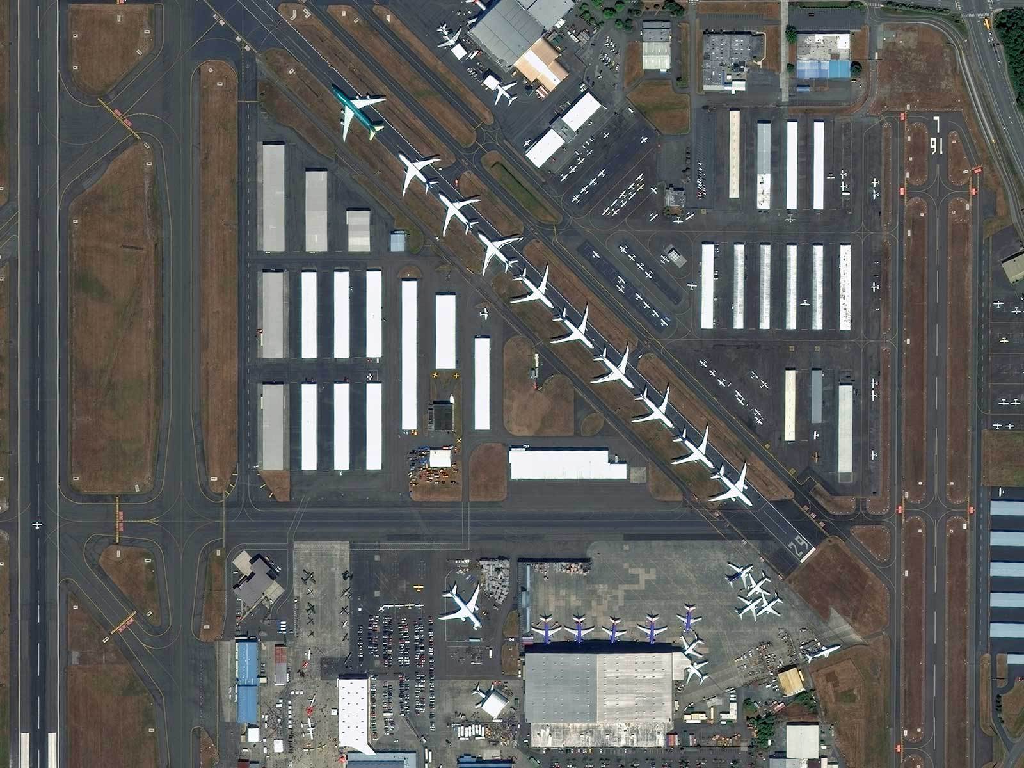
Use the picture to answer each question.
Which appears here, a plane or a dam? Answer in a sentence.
Looking from above, you can make out a plane.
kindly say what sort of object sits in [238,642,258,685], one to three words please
hangar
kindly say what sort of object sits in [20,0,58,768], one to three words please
runway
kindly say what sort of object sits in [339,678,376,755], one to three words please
building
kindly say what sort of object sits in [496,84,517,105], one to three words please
airplane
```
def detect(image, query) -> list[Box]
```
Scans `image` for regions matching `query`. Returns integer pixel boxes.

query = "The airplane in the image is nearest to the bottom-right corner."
[809,646,841,664]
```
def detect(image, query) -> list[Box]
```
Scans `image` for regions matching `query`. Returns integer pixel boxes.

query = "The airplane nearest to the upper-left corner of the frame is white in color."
[332,86,386,141]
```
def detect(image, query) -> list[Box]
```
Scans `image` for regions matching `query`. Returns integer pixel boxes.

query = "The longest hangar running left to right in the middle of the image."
[509,451,627,479]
